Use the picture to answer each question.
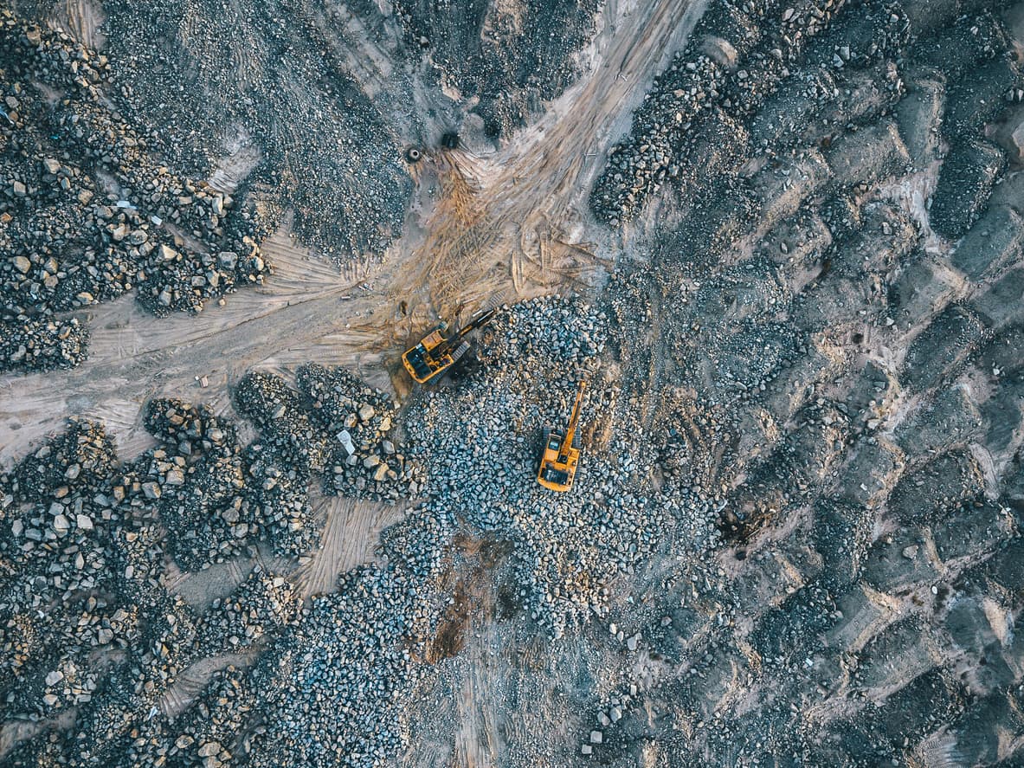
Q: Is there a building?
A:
No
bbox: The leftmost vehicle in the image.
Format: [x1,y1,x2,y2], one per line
[402,308,505,389]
